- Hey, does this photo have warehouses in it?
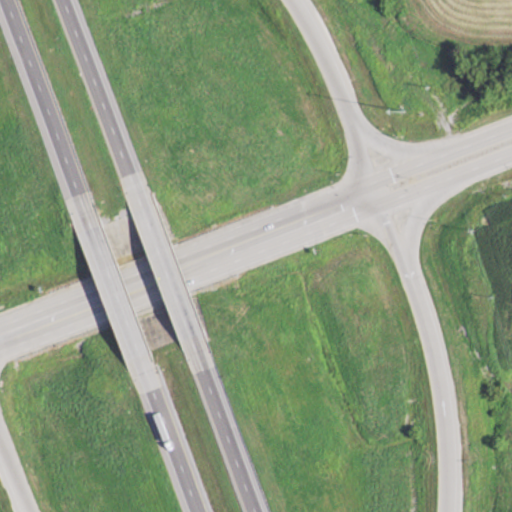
No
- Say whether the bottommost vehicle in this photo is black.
No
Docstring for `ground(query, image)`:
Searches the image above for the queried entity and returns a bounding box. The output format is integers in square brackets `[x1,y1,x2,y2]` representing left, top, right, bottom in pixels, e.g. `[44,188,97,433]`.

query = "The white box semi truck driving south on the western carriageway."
[154,412,174,452]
